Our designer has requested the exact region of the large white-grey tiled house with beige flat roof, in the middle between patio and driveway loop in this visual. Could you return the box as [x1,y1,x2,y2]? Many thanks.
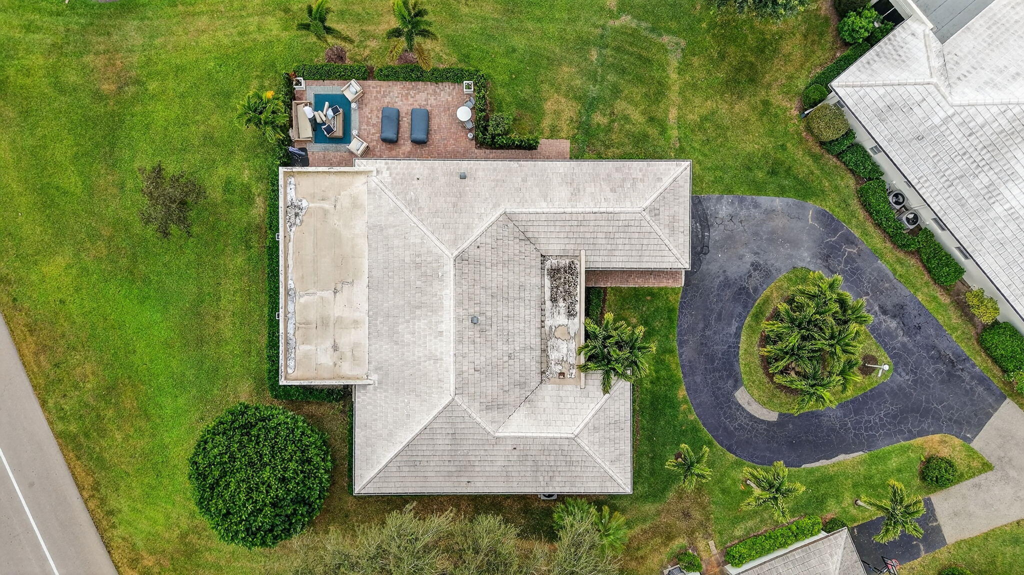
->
[279,159,692,495]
